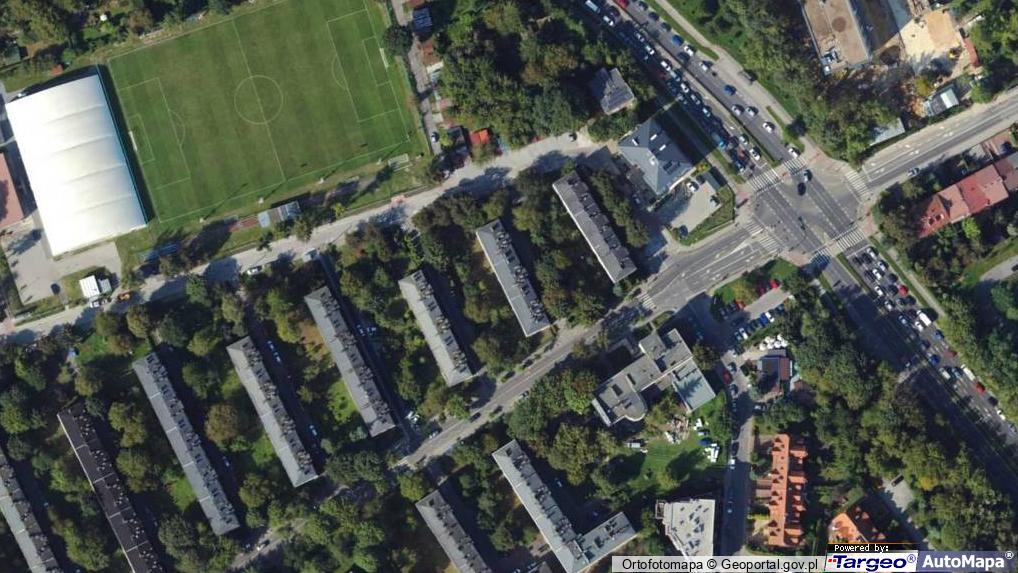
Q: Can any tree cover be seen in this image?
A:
Yes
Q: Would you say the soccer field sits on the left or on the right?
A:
left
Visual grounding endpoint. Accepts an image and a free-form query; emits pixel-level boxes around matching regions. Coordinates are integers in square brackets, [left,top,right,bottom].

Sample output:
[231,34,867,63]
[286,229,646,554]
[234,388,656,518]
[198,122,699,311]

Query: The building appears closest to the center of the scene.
[475,221,549,338]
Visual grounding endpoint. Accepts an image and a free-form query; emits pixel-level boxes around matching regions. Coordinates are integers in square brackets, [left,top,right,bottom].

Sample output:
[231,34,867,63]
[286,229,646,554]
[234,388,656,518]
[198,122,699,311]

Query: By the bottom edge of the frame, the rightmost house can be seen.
[830,500,883,555]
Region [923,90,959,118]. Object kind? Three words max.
building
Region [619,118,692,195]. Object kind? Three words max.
building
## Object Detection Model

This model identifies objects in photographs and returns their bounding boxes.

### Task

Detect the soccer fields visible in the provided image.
[103,0,415,227]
